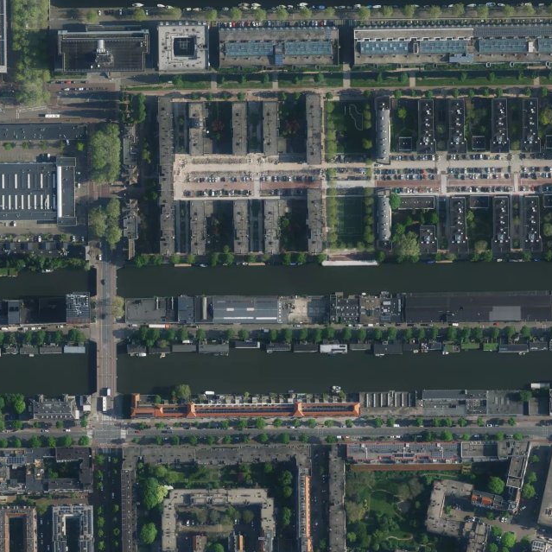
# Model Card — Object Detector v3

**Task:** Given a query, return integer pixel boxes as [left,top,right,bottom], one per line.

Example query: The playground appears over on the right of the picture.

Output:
[326,100,375,154]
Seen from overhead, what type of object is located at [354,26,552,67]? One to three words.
building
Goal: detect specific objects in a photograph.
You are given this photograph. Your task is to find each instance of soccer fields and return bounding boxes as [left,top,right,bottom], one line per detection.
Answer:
[336,197,372,246]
